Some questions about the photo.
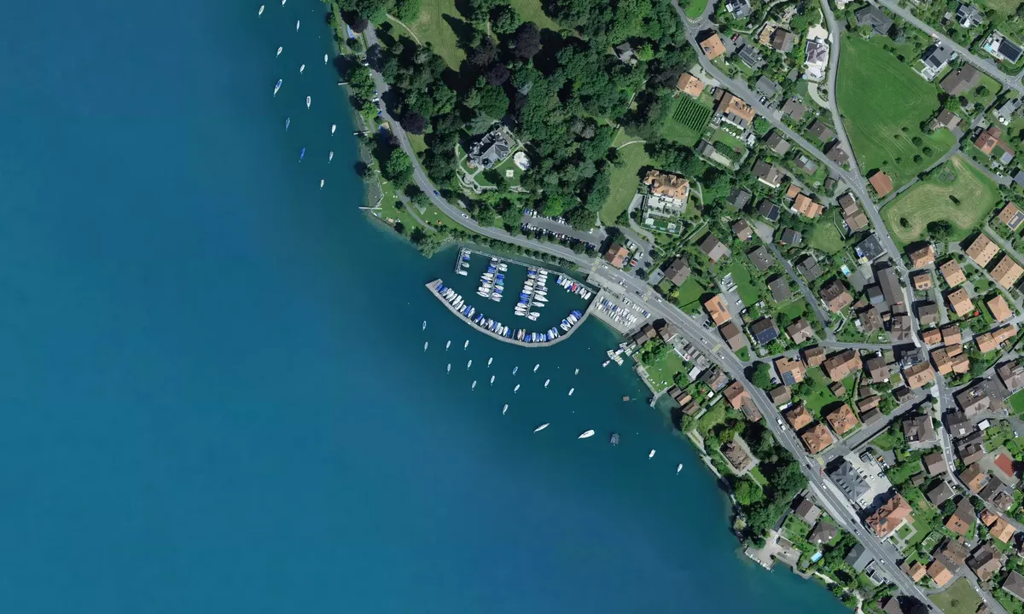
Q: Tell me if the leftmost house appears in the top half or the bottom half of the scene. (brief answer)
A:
top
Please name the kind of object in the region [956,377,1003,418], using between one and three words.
building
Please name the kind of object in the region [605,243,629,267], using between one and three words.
house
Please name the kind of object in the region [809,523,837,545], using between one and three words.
house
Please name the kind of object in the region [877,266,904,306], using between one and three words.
barn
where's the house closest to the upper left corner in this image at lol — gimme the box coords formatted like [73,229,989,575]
[468,128,516,167]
